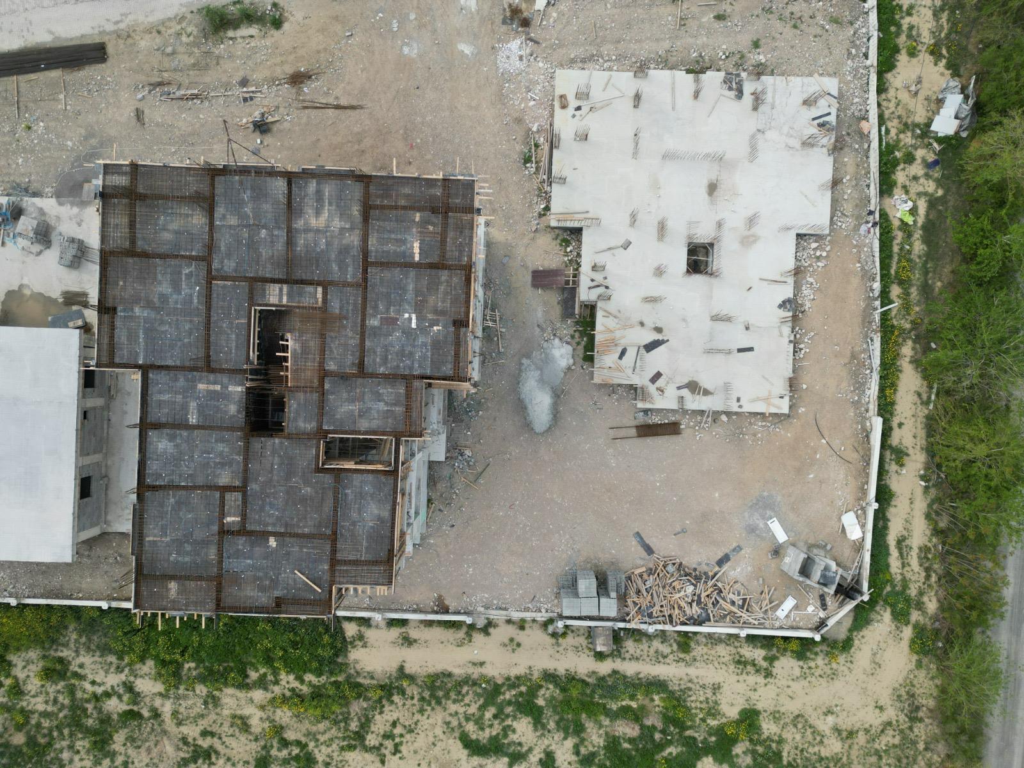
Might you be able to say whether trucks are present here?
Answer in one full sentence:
No, the frame has no truck in it.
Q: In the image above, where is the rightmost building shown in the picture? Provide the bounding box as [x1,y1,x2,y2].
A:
[75,145,494,630]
